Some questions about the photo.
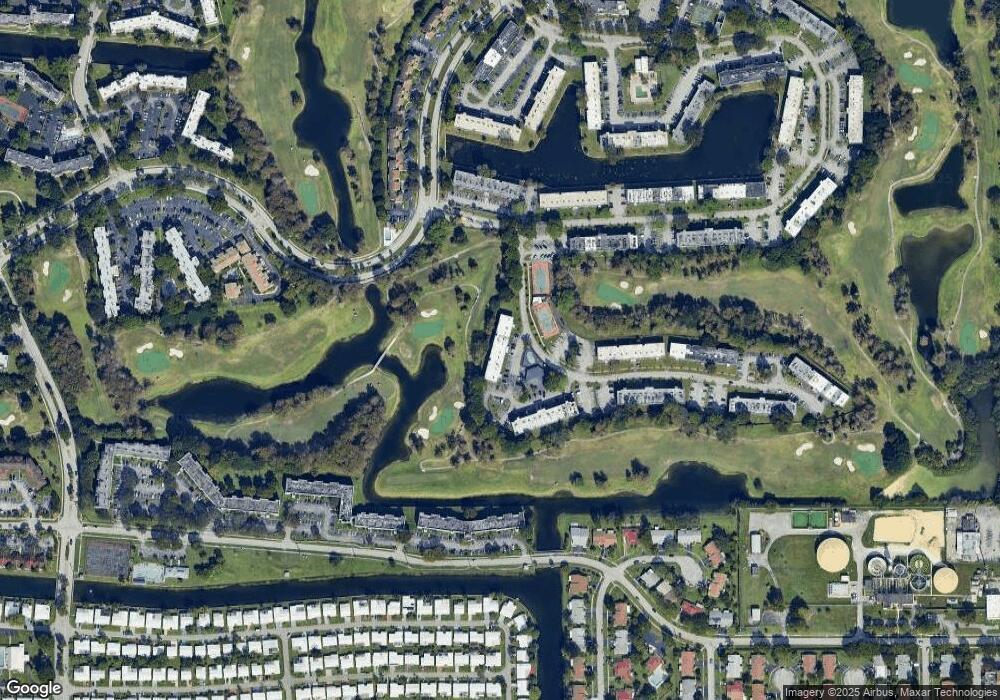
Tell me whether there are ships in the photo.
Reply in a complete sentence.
No, there's no ship here.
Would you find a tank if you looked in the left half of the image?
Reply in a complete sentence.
No, no tank can be made out in the left half of the image.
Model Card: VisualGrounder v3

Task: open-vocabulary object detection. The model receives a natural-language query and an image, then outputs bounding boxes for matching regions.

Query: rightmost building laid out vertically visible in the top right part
[848,72,864,144]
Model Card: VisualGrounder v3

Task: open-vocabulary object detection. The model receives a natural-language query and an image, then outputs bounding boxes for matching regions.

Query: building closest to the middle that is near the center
[485,313,514,382]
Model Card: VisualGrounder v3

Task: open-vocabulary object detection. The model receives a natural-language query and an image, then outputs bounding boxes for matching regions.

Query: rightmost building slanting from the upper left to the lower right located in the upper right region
[770,0,838,45]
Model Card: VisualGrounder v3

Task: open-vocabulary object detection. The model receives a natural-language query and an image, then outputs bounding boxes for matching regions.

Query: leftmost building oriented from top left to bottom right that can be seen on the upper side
[0,60,62,103]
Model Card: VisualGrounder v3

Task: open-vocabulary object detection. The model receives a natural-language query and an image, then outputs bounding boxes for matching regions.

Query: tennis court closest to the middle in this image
[533,304,560,337]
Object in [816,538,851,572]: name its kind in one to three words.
storage tank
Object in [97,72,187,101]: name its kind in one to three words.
building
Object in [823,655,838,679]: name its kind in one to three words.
house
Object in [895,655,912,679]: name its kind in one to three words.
house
